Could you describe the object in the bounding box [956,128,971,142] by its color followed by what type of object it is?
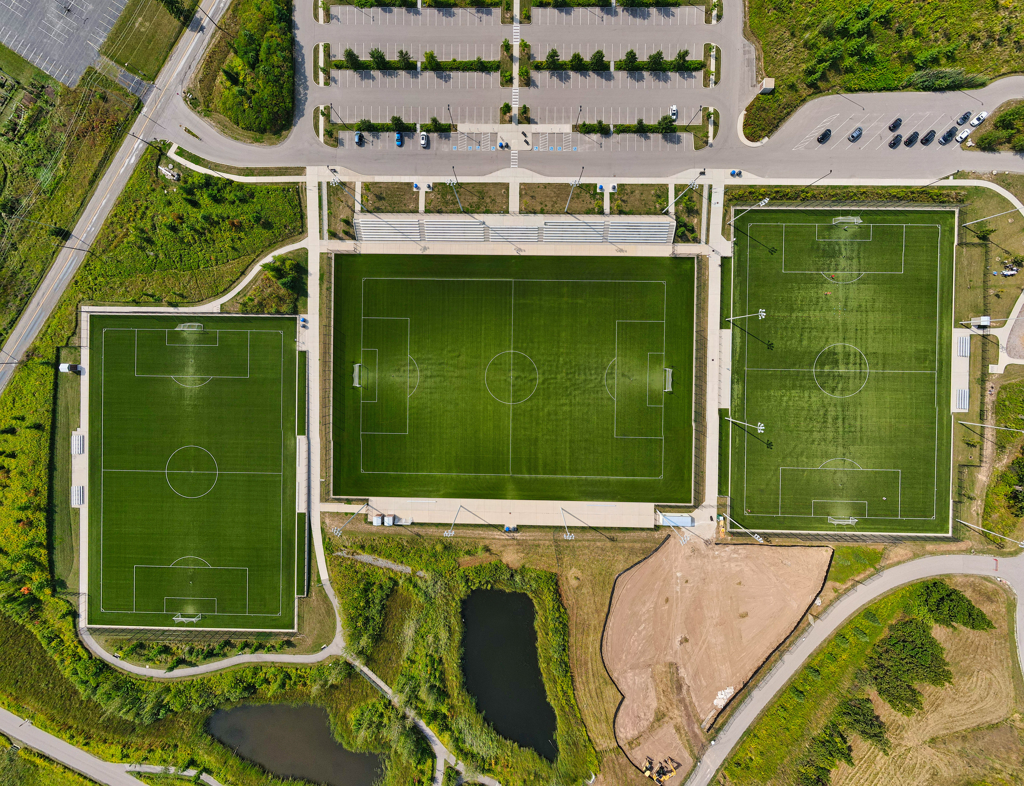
white car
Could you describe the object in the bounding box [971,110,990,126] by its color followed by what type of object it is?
white car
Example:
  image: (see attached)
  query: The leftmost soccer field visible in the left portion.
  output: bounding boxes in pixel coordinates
[86,313,298,631]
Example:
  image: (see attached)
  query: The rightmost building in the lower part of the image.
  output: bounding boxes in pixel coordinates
[658,513,694,527]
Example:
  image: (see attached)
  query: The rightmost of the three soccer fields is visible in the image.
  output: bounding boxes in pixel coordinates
[729,207,957,536]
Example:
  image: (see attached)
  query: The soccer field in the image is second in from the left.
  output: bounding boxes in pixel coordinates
[331,252,697,505]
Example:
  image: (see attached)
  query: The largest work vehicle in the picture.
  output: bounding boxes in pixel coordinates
[653,757,676,782]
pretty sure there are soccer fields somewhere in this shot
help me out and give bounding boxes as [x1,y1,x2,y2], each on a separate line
[86,313,298,631]
[331,252,697,505]
[729,207,957,536]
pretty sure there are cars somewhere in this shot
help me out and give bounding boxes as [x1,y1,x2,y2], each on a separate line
[971,110,990,126]
[957,111,972,125]
[419,132,427,146]
[848,126,865,142]
[921,130,939,145]
[818,129,834,143]
[940,128,958,143]
[394,131,402,146]
[905,132,921,146]
[353,131,362,144]
[956,128,971,142]
[889,135,904,148]
[889,117,905,131]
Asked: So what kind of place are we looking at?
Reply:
sports ground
